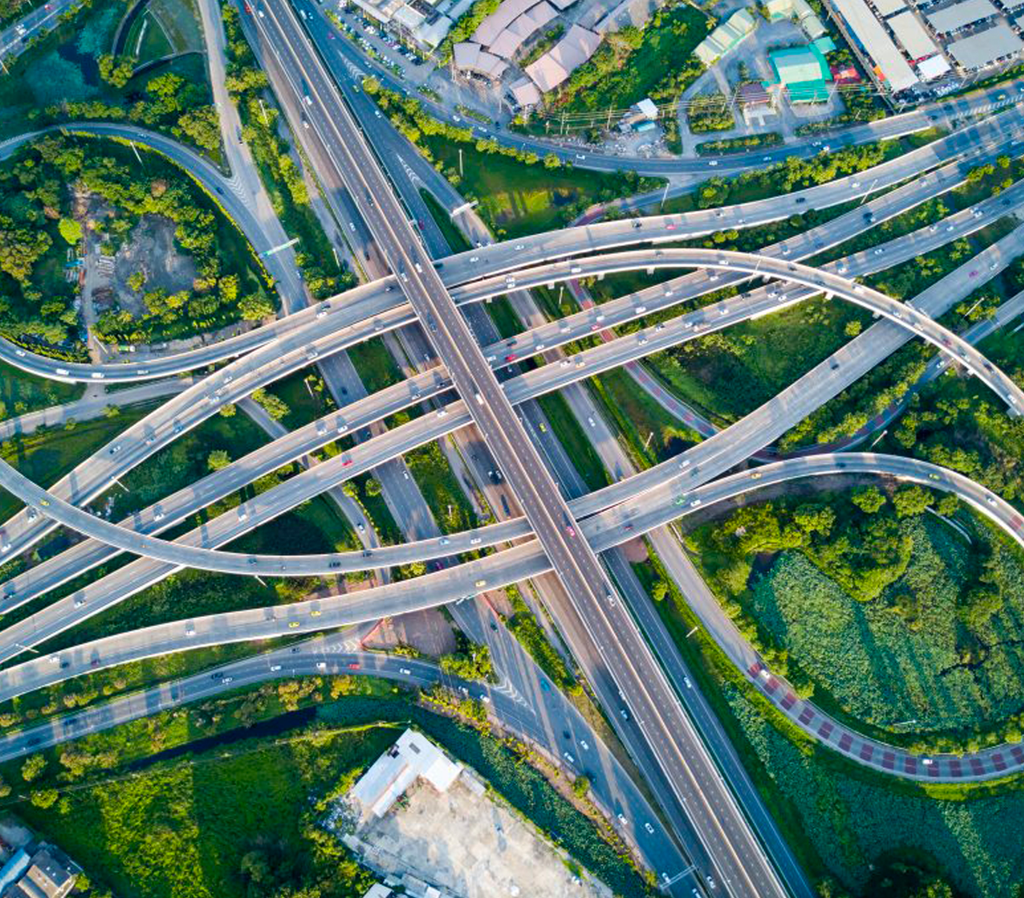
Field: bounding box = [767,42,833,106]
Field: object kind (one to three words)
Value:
building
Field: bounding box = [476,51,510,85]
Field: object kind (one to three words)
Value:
shed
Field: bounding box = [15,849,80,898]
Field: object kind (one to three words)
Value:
house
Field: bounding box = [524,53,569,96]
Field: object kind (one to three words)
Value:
shed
